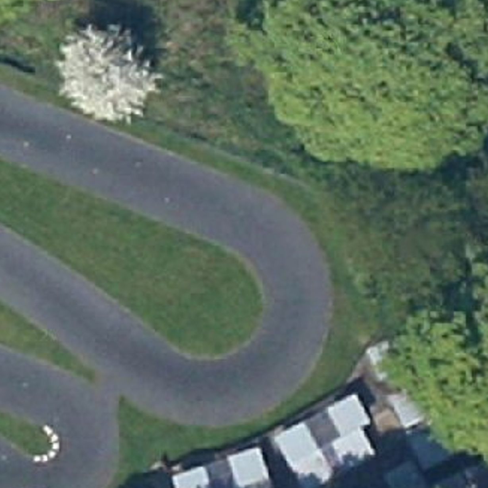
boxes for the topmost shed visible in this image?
[367,341,392,369]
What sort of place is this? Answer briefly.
sports ground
